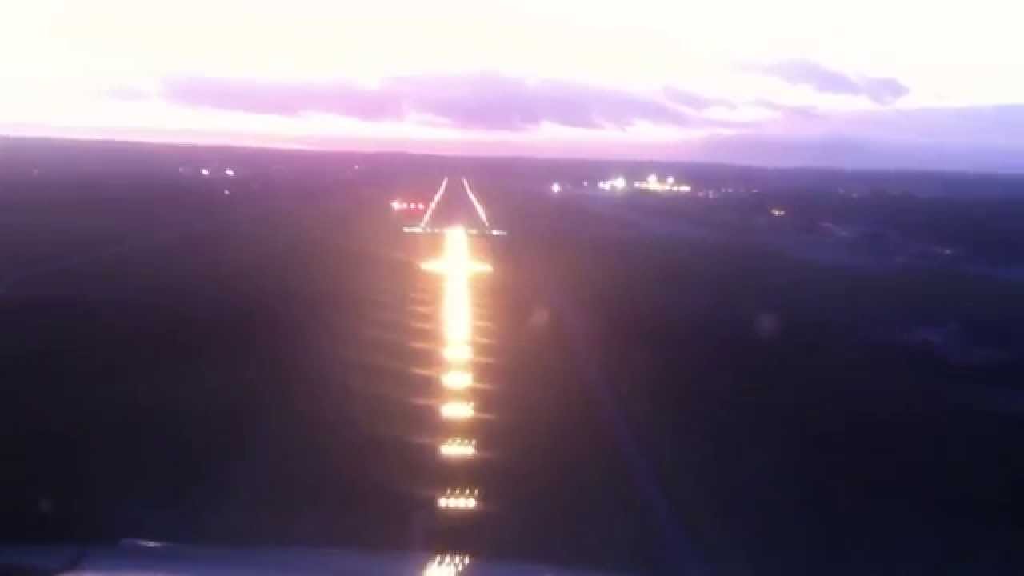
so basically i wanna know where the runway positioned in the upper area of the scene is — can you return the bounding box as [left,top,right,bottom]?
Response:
[429,177,481,232]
